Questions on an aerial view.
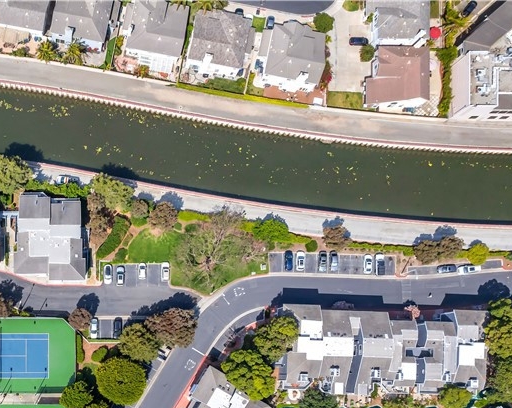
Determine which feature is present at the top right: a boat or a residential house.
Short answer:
residential house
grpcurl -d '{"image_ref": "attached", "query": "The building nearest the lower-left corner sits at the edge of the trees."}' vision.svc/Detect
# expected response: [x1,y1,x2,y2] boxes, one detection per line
[13,192,86,283]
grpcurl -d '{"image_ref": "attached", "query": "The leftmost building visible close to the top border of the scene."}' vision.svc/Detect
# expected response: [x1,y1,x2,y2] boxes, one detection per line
[0,0,55,48]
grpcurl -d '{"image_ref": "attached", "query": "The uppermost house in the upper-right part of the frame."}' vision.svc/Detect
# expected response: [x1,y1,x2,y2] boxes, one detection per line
[356,0,430,51]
